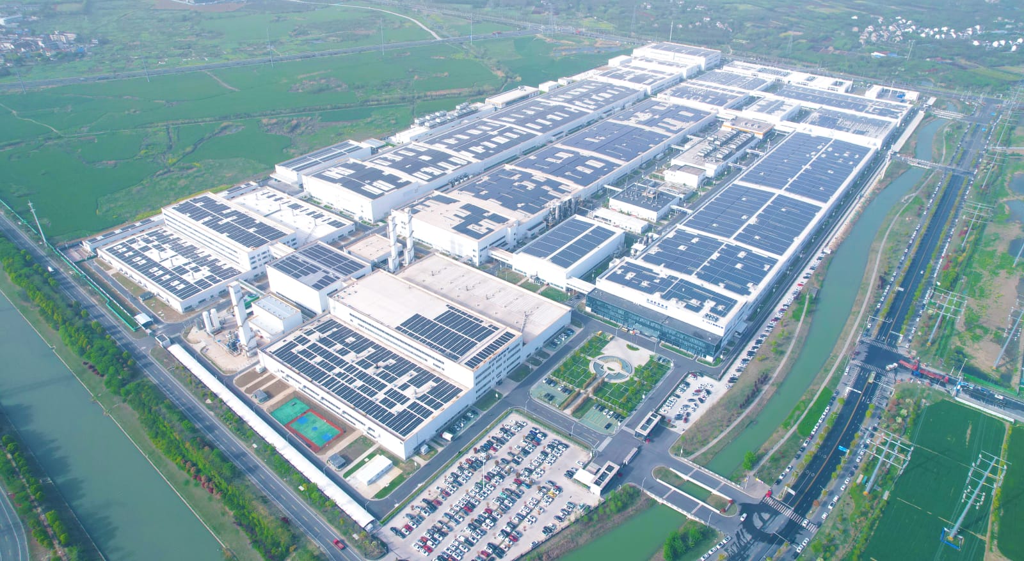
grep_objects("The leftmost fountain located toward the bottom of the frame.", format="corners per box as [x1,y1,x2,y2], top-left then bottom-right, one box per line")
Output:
[590,354,634,382]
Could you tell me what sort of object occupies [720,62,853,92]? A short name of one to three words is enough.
building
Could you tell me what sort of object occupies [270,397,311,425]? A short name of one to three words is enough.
sports court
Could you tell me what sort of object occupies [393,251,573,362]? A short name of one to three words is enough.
building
